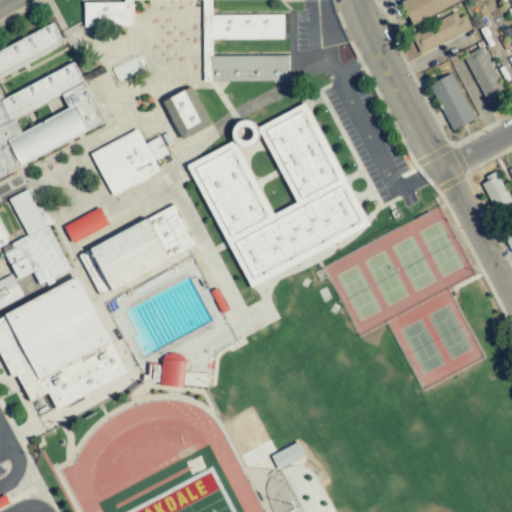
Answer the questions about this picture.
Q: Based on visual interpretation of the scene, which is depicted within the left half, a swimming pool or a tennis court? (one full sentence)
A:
Visible within the left half is a swimming pool.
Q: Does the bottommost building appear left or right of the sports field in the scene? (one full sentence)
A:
Compared with the sports field, the bottommost building is located further to the right.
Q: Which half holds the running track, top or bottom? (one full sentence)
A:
The running track sits in the bottom half of the picture.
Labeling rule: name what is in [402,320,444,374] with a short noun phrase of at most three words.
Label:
tennis court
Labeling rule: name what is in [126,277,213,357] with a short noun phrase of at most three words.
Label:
swimming pool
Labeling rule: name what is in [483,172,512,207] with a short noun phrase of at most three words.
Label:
house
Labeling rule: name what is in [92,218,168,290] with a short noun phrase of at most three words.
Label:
building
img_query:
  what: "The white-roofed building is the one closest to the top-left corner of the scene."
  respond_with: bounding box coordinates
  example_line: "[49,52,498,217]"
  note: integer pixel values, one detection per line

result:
[0,23,63,74]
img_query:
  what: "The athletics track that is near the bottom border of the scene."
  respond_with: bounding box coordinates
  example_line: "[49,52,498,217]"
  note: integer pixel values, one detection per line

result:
[63,400,269,512]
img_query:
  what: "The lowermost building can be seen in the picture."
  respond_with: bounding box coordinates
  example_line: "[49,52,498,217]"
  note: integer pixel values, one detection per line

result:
[272,442,306,468]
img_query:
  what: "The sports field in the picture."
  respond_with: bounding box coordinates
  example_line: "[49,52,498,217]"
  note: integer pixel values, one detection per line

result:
[100,446,245,512]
